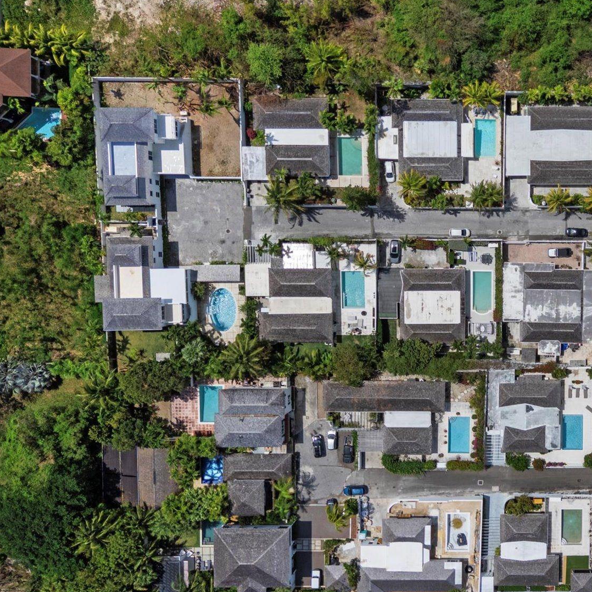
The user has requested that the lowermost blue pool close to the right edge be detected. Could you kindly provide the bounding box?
[561,414,584,451]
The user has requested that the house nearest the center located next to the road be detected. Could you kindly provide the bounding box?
[245,258,337,342]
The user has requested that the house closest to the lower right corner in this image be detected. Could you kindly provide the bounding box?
[571,569,592,592]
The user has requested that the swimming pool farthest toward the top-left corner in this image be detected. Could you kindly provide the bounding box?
[20,106,61,137]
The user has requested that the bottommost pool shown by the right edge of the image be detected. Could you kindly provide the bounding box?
[561,509,584,545]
